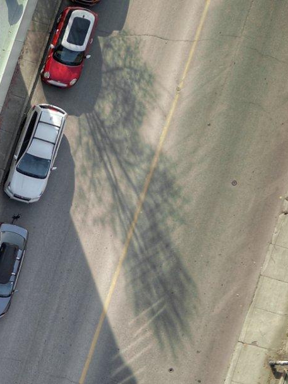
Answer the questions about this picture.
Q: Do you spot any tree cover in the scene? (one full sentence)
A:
No, the picture contains no tree cover.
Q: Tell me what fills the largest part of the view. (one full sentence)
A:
The bulk of the photo consists of paved ground.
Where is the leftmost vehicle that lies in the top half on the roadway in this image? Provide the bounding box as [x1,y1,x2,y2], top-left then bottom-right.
[0,104,65,203]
